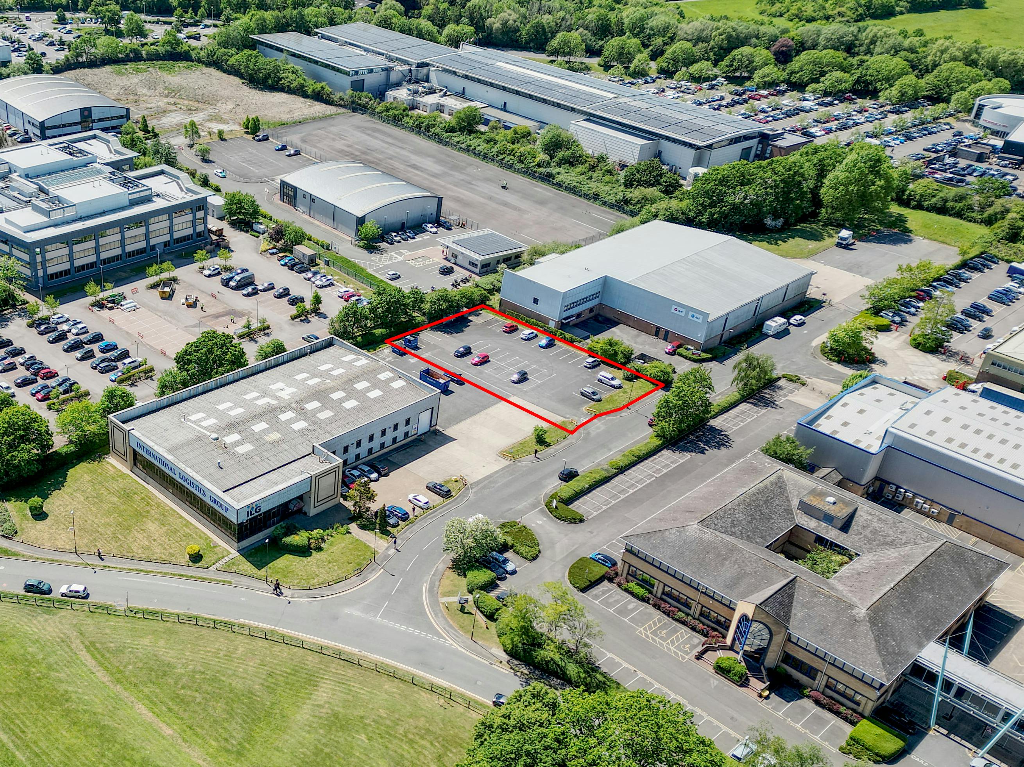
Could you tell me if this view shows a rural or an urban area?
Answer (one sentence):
The land in this view is best described as urban.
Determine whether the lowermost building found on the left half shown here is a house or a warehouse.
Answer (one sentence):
I'd identify the lowermost building found on the left half as a warehouse.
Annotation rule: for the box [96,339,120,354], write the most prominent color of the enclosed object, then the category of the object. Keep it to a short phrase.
blue car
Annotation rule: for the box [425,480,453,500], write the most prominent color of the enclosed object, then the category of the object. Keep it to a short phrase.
gray car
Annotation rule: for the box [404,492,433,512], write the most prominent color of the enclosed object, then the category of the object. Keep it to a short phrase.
white car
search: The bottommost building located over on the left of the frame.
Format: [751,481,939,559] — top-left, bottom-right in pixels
[105,335,440,550]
